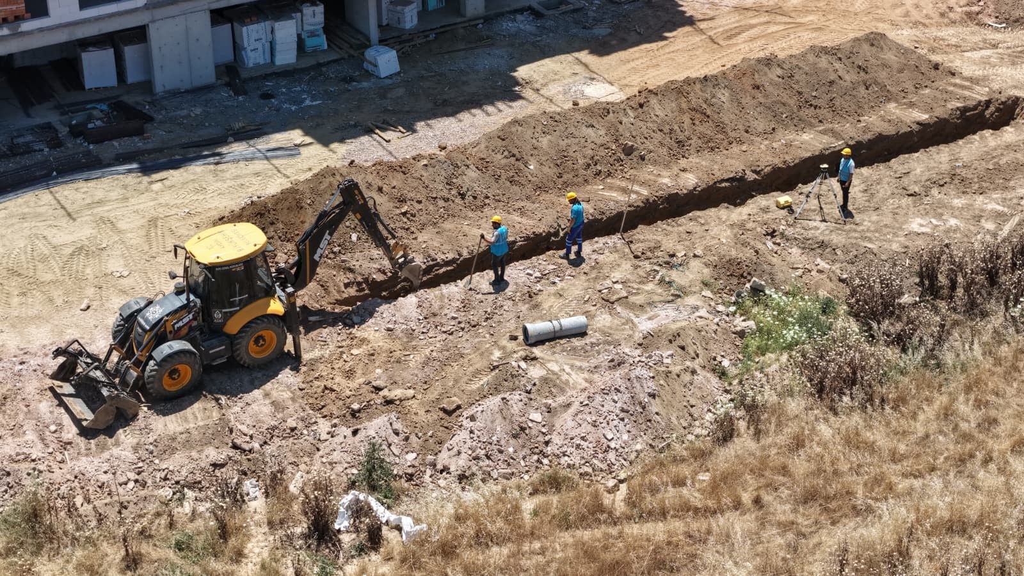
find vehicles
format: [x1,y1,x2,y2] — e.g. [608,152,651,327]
[51,171,423,429]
